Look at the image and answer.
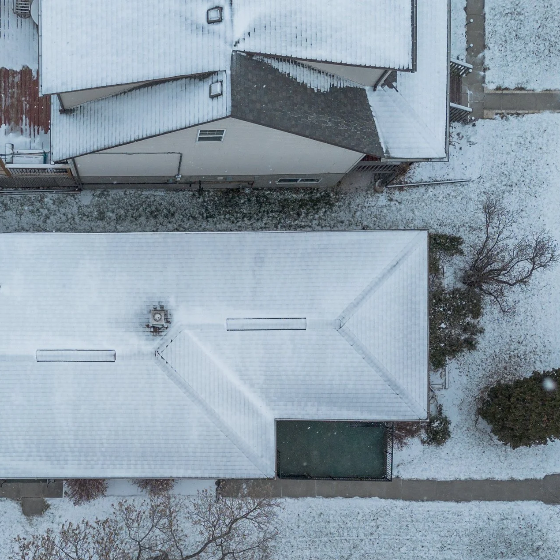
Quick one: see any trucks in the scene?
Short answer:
No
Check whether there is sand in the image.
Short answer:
No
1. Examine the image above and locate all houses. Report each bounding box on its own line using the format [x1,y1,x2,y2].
[0,233,428,485]
[38,0,474,192]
